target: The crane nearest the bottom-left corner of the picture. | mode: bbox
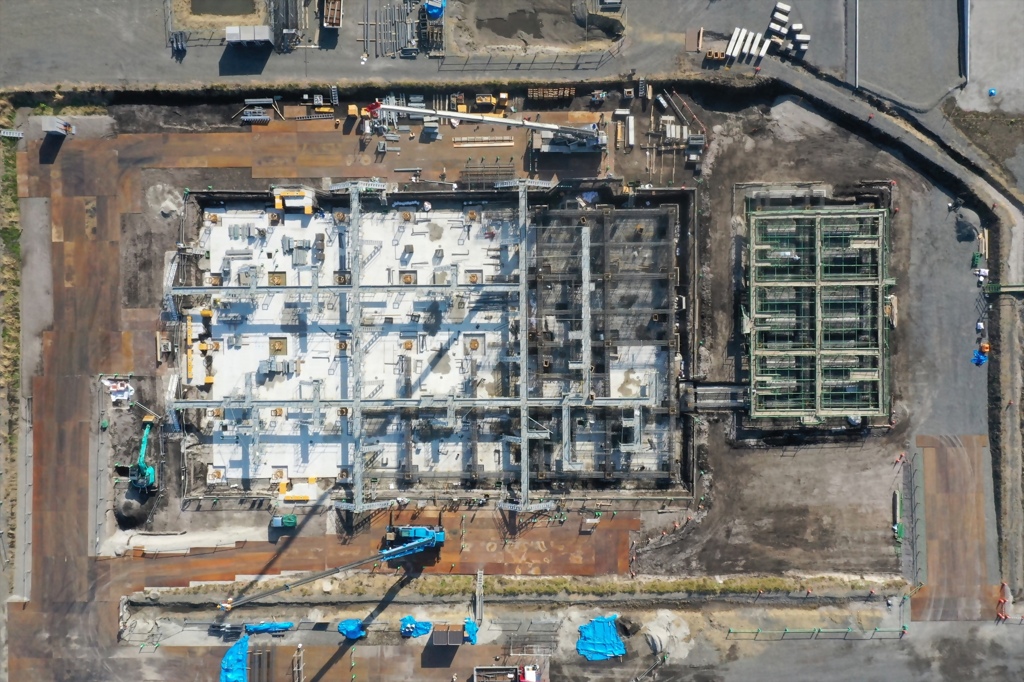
[218,505,445,611]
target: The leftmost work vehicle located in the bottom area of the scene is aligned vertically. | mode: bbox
[131,413,156,491]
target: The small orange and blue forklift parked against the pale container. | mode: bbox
[64,121,80,138]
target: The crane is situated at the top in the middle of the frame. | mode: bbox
[366,99,607,173]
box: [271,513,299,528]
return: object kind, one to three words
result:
vehicle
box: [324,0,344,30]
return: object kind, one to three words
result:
vehicle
